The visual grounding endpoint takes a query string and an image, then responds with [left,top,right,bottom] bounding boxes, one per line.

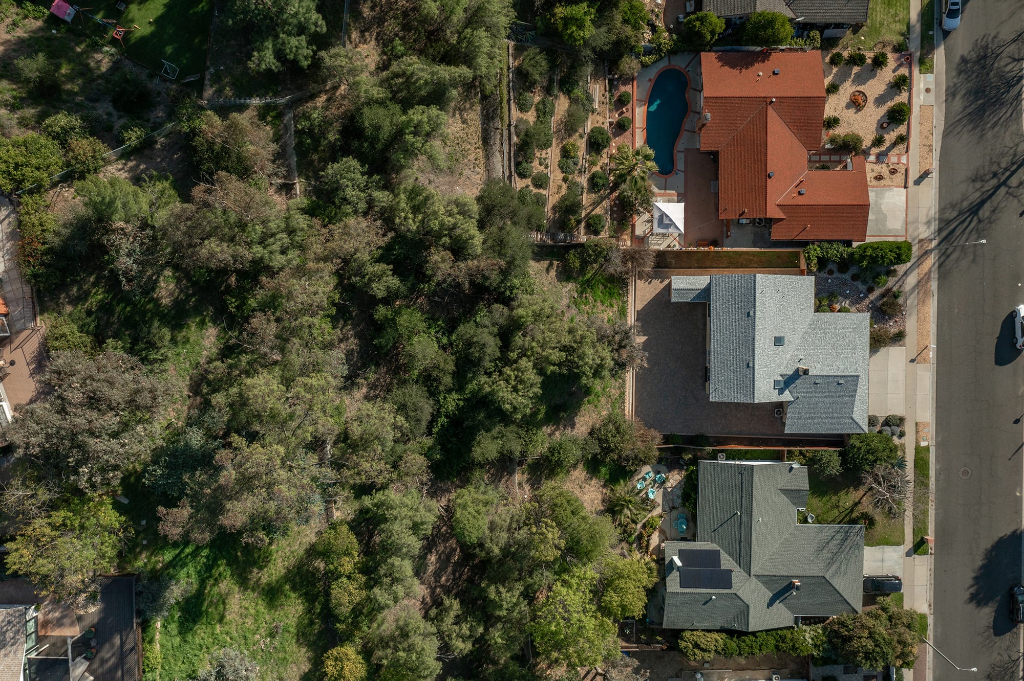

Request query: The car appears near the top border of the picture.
[942,0,969,30]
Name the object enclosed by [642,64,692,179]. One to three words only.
swimming pool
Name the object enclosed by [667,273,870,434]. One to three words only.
house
